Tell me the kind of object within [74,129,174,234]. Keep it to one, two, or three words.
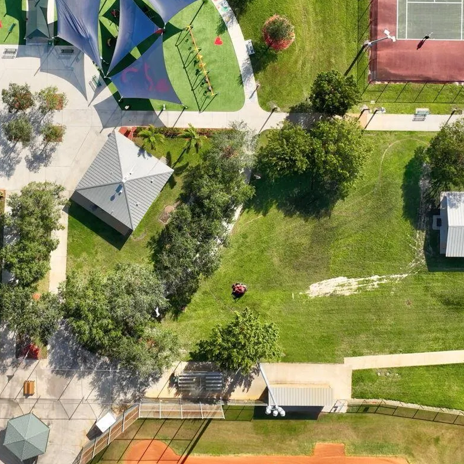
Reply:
building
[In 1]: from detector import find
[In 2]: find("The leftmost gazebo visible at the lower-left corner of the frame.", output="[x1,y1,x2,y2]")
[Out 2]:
[4,409,49,460]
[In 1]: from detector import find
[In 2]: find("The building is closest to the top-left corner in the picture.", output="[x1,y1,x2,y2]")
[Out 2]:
[25,0,51,41]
